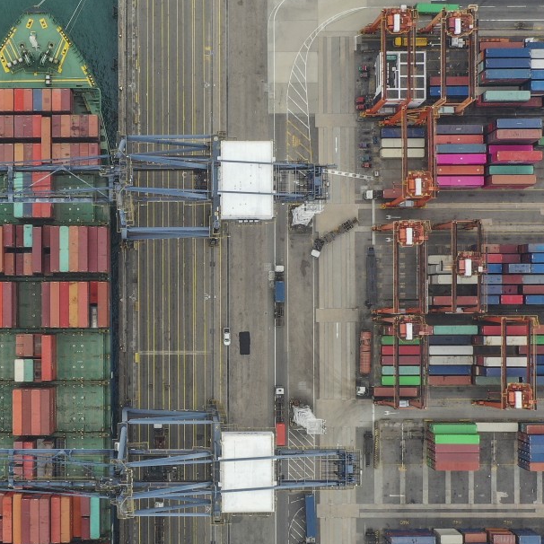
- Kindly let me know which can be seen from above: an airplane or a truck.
truck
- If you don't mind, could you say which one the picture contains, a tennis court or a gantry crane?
gantry crane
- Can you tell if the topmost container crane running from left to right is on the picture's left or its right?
left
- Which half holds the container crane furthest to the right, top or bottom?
bottom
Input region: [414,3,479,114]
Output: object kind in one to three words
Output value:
container crane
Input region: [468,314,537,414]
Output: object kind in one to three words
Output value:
container crane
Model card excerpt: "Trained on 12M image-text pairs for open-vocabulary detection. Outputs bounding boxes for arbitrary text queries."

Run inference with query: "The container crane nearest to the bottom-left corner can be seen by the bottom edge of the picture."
[0,400,361,519]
